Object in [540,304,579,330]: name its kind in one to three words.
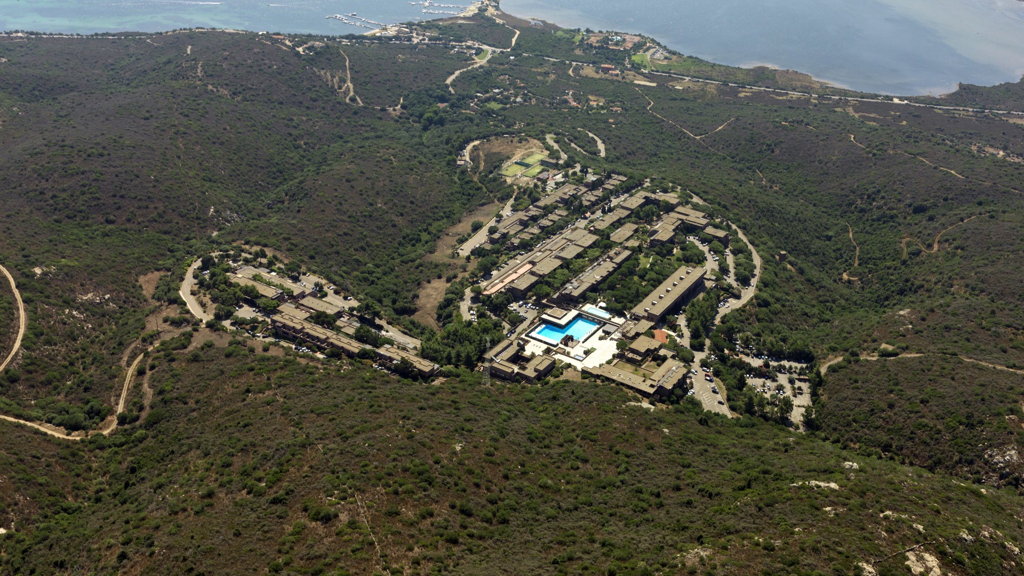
building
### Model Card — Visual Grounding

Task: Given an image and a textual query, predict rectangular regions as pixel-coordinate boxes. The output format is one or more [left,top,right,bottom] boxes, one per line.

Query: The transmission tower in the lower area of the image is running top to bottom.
[479,344,493,382]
